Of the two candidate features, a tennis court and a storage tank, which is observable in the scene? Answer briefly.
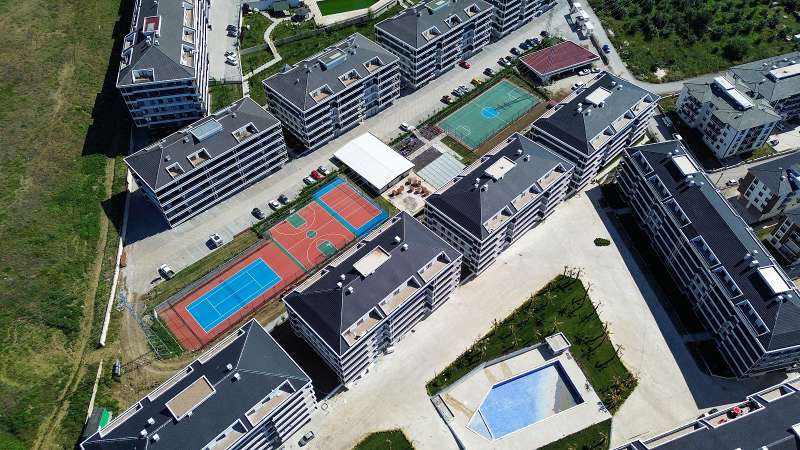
tennis court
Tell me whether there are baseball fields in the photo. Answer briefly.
No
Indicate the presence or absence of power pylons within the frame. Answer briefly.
Yes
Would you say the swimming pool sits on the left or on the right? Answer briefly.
right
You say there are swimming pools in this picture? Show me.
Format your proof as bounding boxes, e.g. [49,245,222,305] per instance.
[431,341,612,450]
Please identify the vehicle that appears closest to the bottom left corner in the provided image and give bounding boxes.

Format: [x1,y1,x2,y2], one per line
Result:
[110,359,127,380]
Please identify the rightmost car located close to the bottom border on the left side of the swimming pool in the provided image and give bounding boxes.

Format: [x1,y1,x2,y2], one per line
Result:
[298,427,314,449]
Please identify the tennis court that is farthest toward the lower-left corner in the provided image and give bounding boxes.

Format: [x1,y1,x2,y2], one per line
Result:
[158,238,305,354]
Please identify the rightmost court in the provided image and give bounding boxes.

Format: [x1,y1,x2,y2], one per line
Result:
[436,79,544,150]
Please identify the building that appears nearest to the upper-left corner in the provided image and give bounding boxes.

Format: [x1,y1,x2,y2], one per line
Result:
[116,0,212,123]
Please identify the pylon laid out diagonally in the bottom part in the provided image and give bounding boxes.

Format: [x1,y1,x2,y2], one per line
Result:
[120,290,171,362]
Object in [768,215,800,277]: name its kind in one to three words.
house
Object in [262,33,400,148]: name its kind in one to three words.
building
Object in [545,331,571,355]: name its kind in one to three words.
building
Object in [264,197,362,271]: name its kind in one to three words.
basketball court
